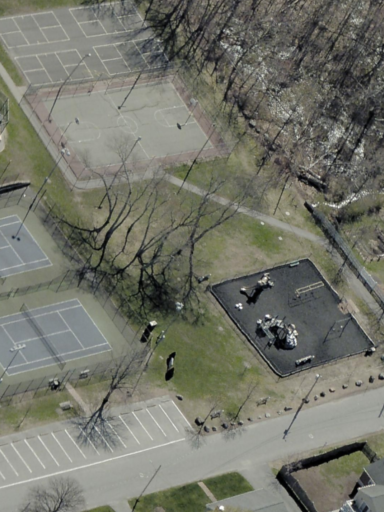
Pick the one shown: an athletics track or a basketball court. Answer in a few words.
basketball court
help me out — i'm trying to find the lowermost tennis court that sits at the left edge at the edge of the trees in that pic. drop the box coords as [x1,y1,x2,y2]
[0,273,149,394]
